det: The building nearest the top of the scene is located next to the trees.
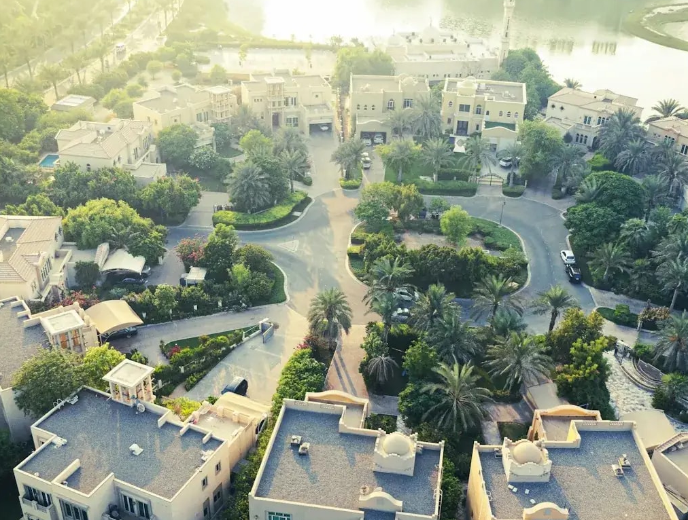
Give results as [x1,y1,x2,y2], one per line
[379,16,496,86]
